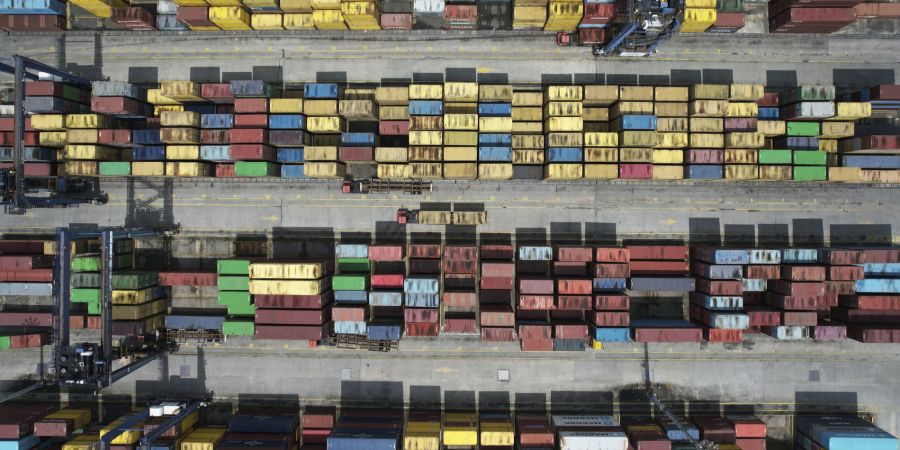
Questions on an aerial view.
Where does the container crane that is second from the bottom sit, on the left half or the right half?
left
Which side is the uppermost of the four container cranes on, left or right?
right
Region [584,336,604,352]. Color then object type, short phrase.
yellow vehicle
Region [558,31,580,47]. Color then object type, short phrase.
red vehicle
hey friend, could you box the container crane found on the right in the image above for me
[600,0,694,59]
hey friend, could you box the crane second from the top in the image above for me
[0,47,105,209]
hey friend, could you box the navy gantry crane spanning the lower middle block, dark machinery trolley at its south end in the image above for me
[54,221,175,391]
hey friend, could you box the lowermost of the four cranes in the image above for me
[98,399,207,450]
